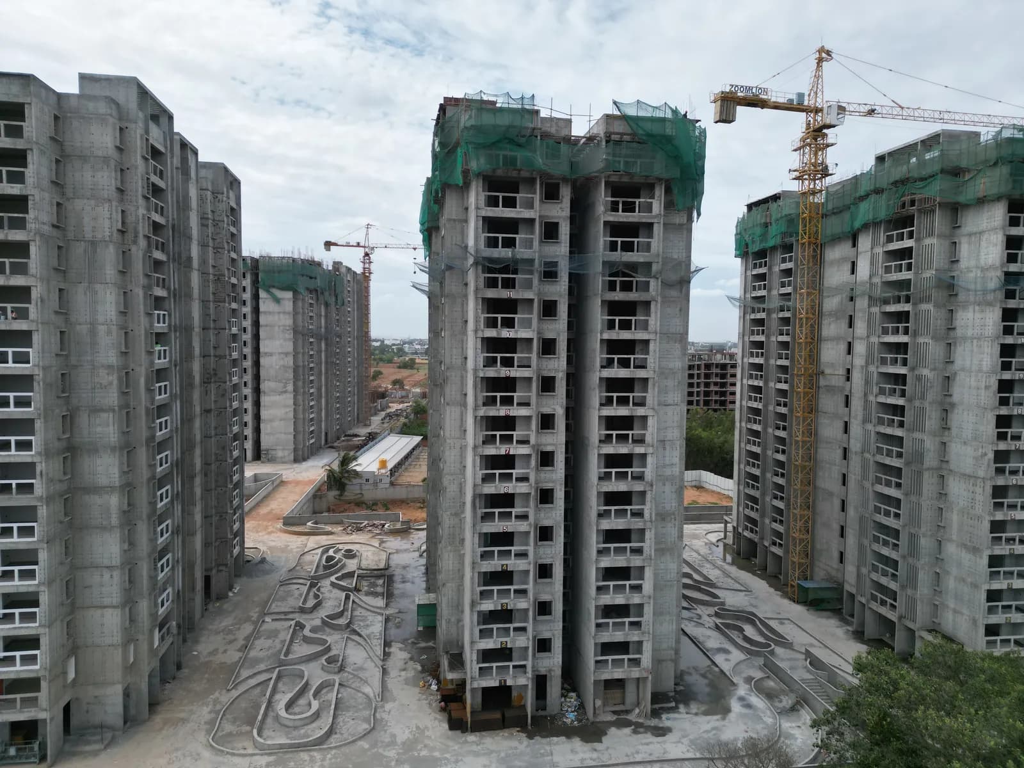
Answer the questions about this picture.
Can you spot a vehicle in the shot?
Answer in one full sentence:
No, the scene contains no vehicle.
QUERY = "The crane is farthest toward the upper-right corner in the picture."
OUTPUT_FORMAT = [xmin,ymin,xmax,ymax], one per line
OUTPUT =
[704,44,1024,606]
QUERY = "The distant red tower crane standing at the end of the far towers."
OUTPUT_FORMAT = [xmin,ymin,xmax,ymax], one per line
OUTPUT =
[326,223,430,424]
